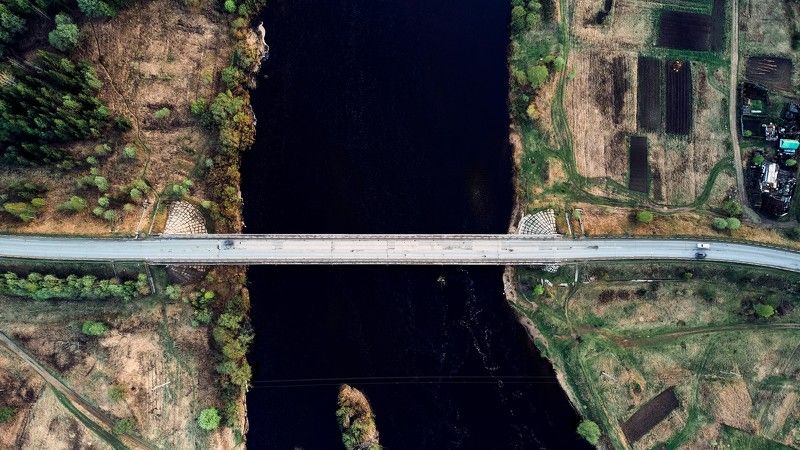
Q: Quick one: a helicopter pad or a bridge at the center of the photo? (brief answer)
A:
bridge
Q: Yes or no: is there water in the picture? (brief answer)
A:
Yes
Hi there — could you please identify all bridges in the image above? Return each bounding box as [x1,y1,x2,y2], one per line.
[152,234,571,266]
